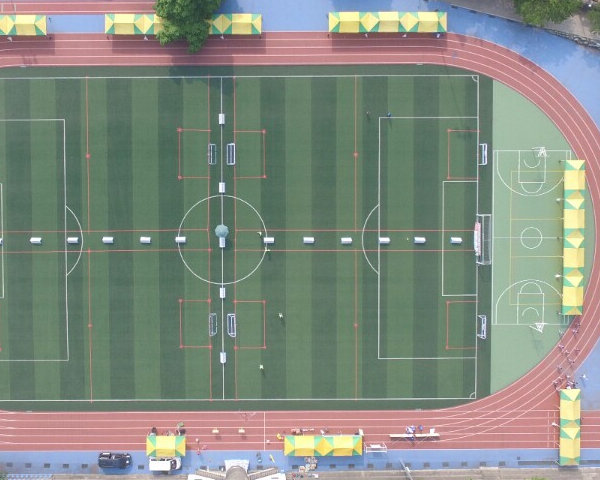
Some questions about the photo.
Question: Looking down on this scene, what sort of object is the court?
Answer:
basketball court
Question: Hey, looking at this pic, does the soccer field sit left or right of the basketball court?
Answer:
to the left of it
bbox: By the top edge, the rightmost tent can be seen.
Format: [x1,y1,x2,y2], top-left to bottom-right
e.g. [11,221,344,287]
[405,11,447,36]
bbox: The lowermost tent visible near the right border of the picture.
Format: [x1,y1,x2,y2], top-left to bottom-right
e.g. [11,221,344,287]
[553,424,579,466]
